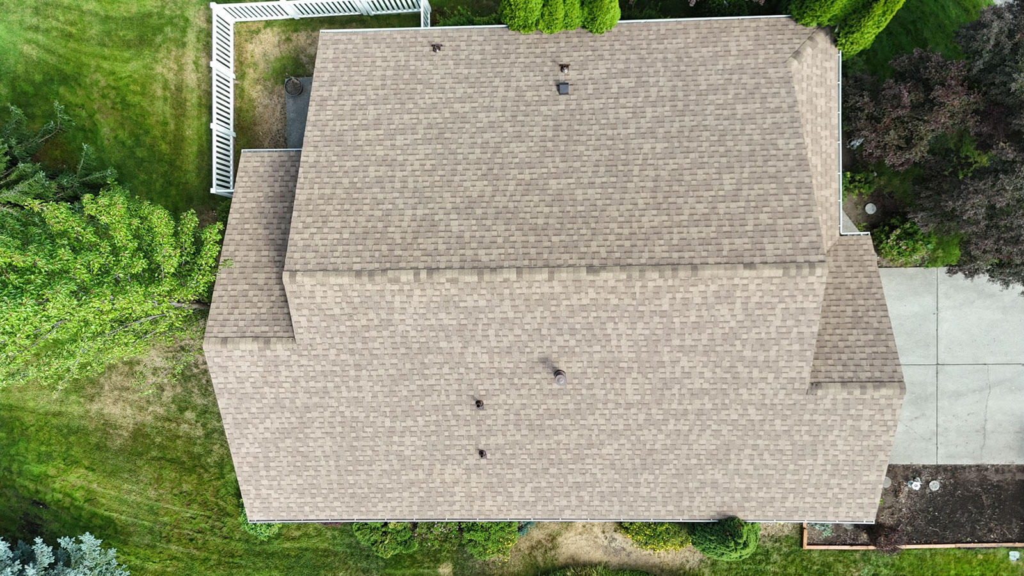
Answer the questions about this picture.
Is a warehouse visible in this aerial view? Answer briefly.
No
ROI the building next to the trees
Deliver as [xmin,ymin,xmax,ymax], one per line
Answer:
[208,14,905,526]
